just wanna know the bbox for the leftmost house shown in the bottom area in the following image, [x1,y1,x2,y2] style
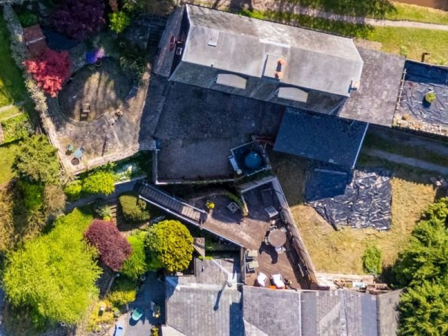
[162,254,241,336]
